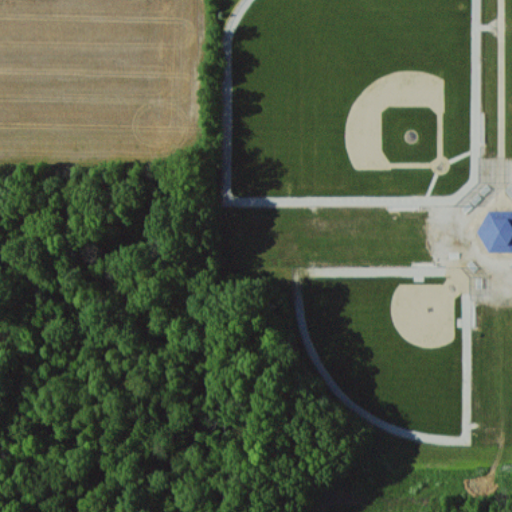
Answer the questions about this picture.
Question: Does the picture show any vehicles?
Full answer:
No, the photo shows no vehicle.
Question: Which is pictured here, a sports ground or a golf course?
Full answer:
The area seen from above is a sports ground.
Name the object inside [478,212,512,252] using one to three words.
building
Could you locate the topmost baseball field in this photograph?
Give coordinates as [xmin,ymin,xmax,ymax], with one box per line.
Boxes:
[223,0,482,211]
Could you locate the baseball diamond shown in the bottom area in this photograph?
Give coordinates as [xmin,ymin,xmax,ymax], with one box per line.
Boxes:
[294,266,480,446]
